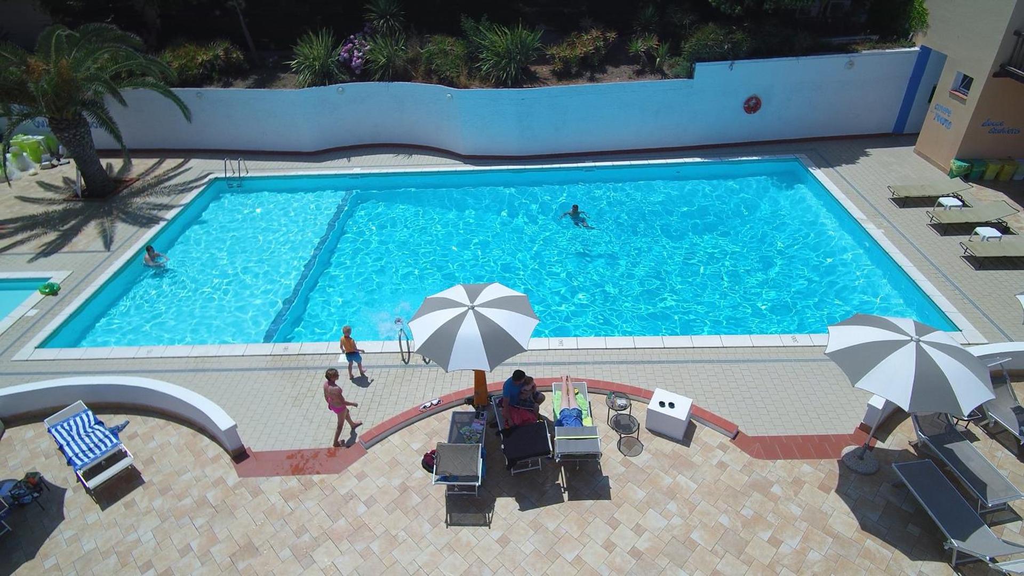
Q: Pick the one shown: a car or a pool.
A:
pool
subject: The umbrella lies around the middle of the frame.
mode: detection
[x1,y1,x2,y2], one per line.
[409,281,540,411]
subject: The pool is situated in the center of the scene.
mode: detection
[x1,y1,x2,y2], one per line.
[44,161,953,347]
